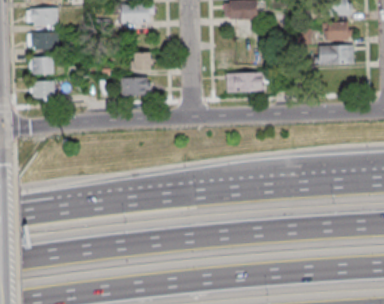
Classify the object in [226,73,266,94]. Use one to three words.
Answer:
house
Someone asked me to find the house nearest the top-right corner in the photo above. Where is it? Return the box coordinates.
[333,0,357,17]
